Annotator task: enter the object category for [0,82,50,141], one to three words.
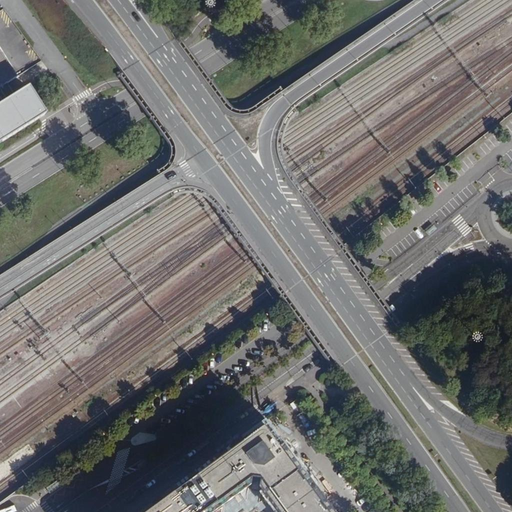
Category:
building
